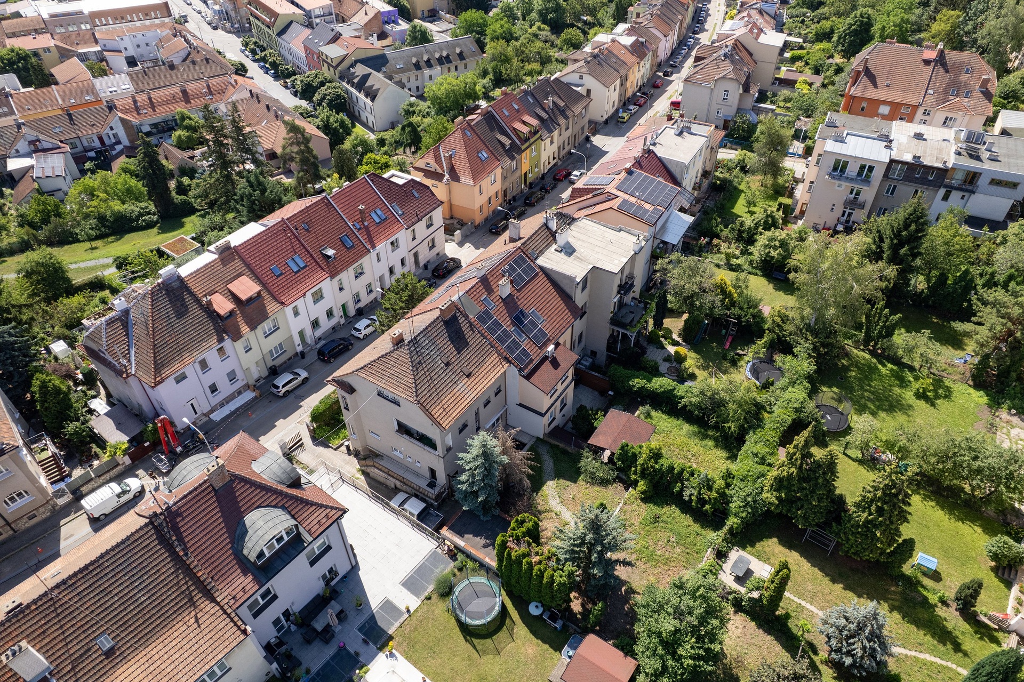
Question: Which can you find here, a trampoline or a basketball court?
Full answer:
The one in the frame is a trampoline.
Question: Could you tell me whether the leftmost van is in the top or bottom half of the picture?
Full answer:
It is in the bottom half that the leftmost van appears.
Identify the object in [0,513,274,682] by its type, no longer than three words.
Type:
house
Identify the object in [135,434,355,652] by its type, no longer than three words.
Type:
house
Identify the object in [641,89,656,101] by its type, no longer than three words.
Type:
vehicle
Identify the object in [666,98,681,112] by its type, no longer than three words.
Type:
vehicle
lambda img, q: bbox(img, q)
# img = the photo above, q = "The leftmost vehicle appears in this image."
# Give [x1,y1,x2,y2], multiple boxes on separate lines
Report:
[81,481,143,522]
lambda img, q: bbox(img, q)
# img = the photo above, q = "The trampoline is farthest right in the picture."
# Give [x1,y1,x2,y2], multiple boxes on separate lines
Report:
[816,390,861,436]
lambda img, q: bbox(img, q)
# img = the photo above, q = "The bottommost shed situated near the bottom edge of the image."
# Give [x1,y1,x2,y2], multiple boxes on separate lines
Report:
[561,634,634,682]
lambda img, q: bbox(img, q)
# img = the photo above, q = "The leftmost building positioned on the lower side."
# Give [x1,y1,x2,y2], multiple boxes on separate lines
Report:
[0,426,50,524]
